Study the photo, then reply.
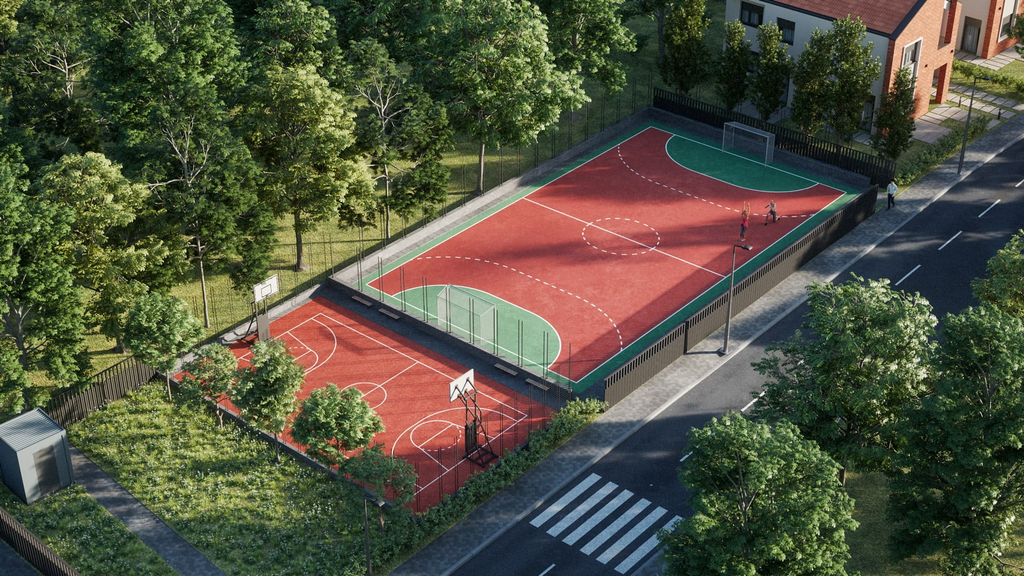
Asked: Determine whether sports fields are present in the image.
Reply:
Yes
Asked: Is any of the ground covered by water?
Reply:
No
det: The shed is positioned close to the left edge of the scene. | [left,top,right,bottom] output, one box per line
[0,408,71,504]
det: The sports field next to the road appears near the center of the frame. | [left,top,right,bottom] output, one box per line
[366,127,845,383]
